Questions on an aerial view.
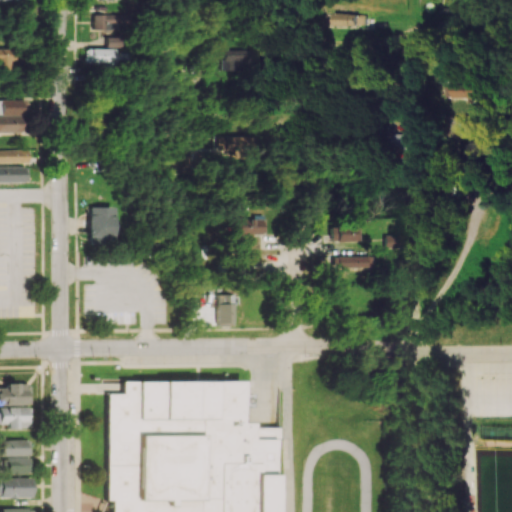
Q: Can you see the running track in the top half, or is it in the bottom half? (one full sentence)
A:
The running track is in the bottom half of the image.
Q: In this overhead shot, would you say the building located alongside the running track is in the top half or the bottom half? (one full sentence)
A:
The building located alongside the running track is in the bottom half of the image.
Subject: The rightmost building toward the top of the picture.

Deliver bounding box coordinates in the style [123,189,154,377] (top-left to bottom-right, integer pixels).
[445,90,472,103]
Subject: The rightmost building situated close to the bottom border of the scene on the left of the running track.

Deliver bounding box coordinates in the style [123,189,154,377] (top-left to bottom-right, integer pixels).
[108,381,286,512]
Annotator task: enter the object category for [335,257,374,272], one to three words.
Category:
house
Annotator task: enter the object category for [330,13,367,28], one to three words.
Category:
house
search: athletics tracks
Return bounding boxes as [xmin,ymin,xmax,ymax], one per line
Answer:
[302,438,372,512]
